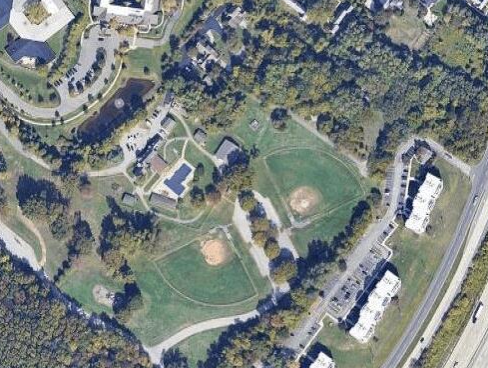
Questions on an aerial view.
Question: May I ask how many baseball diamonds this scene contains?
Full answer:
The photo contains 2 baseball diamonds.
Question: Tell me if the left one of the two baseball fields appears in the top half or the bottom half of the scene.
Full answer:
You can find the left one of the two baseball fields in the bottom half.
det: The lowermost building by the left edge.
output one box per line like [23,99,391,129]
[6,38,55,63]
